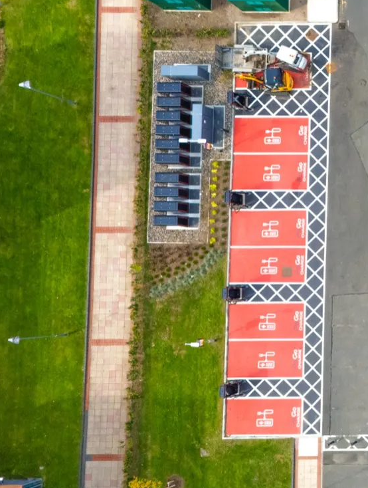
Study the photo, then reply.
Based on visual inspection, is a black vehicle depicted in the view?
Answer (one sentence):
No, this view has no black vehicle in it.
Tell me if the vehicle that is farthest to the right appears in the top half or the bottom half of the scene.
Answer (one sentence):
It is in the top half that the vehicle that is farthest to the right appears.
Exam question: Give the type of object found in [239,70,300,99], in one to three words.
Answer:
work vehicle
